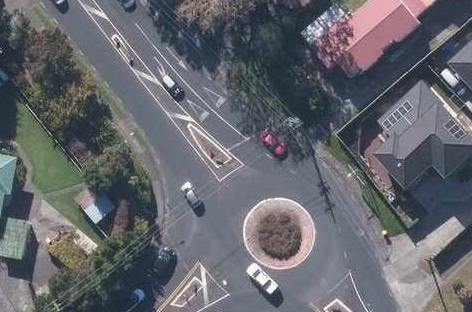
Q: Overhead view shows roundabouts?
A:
Yes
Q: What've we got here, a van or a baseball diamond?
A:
van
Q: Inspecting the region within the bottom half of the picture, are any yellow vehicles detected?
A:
No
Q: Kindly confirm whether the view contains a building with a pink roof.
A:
Yes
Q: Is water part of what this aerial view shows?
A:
No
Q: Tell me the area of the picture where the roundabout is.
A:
bottom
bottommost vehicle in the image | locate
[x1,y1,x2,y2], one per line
[119,288,146,312]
